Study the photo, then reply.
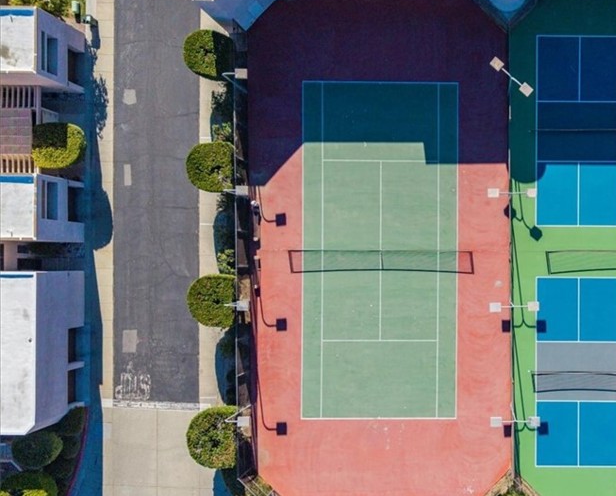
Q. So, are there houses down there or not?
Yes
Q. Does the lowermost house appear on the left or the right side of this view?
left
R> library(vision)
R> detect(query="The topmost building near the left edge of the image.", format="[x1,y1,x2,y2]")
[0,5,84,94]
